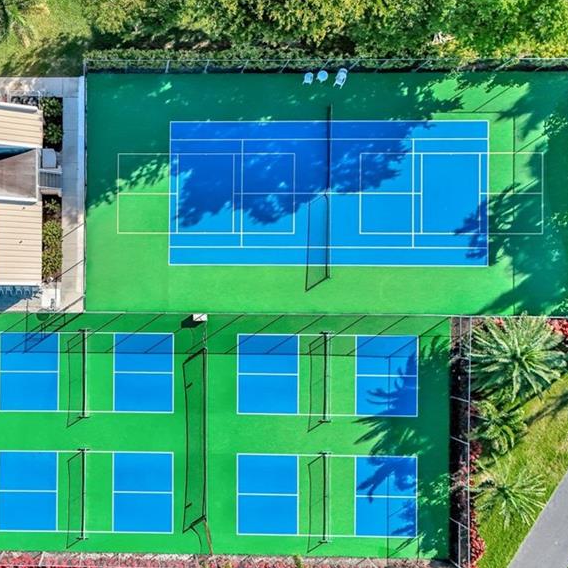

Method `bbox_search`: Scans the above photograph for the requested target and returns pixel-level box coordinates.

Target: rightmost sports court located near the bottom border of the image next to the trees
[202,432,452,561]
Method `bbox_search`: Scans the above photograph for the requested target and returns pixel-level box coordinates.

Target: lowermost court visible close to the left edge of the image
[0,432,202,556]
